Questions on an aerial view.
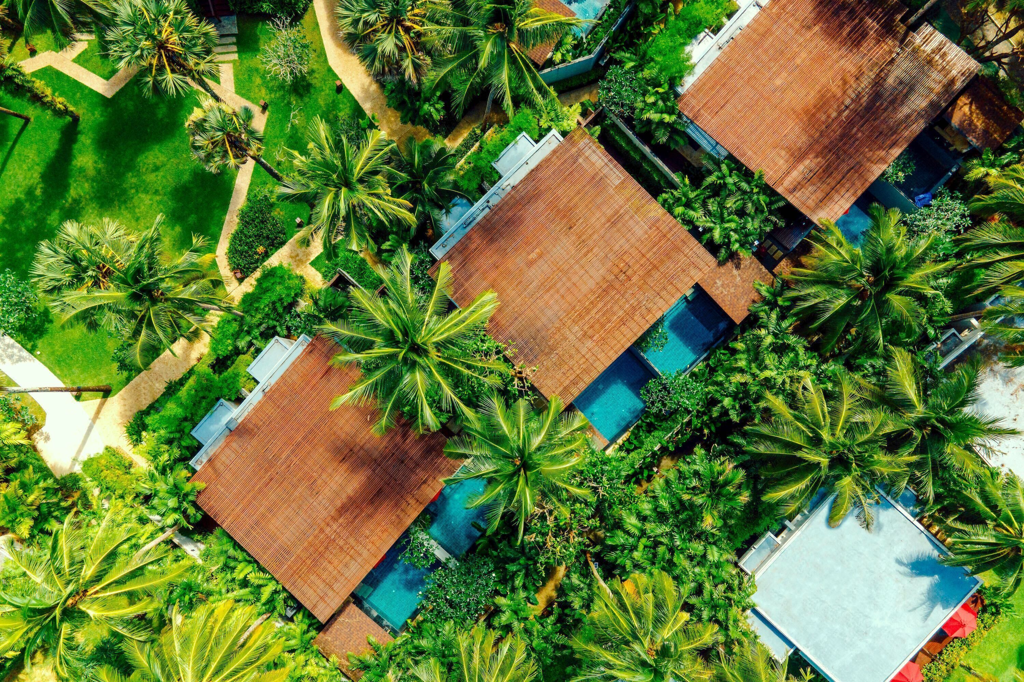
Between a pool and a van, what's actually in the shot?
pool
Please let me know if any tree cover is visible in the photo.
Yes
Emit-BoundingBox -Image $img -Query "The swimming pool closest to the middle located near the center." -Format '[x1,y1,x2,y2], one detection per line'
[568,350,660,446]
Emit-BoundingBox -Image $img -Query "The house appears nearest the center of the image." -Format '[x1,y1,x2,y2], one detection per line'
[427,126,717,411]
